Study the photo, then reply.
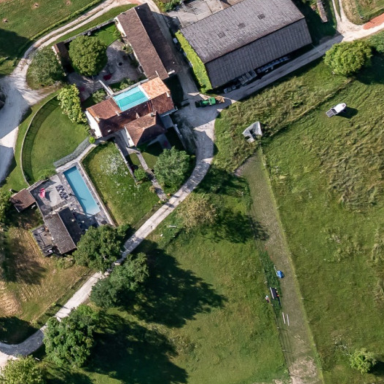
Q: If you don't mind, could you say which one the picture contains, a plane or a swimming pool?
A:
swimming pool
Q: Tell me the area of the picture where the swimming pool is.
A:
left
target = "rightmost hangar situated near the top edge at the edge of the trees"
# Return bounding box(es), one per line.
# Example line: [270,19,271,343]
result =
[178,0,312,89]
